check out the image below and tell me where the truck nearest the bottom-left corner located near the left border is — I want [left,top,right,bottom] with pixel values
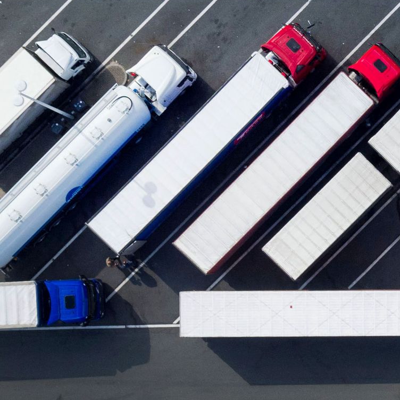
[0,276,109,328]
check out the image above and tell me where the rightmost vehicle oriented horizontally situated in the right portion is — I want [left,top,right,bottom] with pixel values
[179,289,400,337]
